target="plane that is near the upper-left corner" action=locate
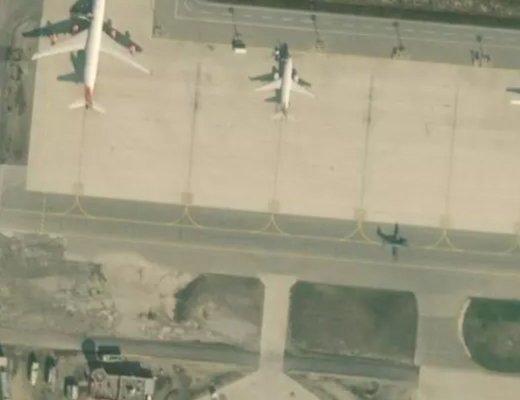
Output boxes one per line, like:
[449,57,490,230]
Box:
[31,0,152,113]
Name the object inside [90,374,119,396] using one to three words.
house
